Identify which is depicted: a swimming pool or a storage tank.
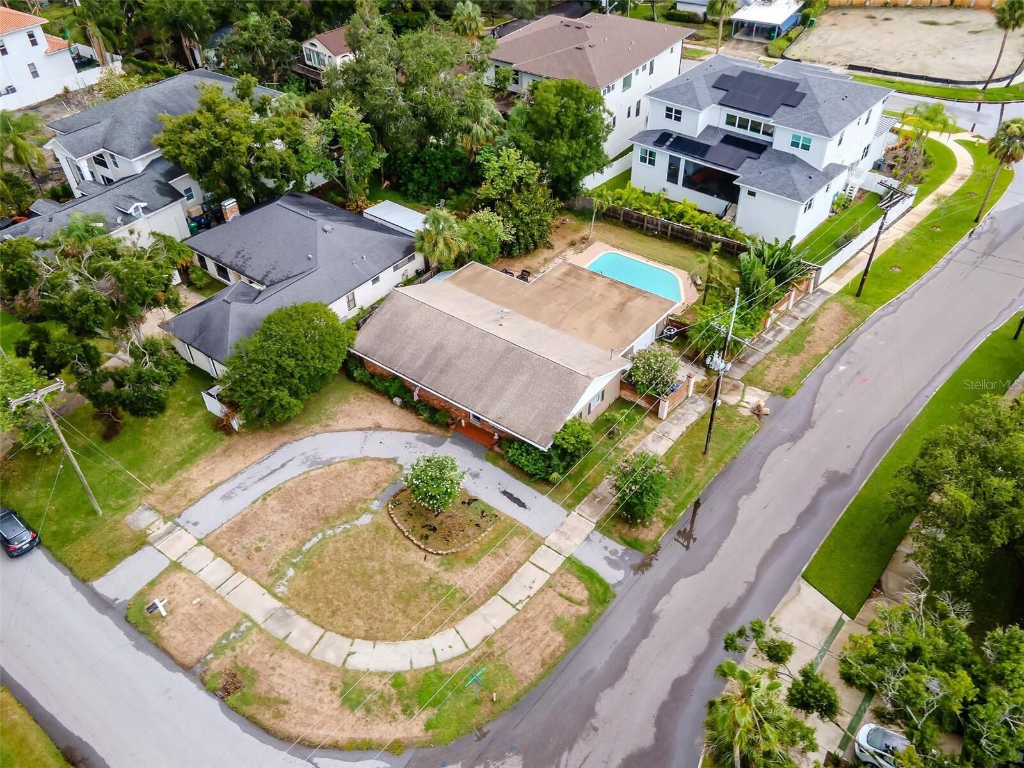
swimming pool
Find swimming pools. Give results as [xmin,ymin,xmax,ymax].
[579,248,687,312]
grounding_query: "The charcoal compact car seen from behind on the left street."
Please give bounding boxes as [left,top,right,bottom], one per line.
[0,512,35,561]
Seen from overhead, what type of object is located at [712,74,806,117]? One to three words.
solar panel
